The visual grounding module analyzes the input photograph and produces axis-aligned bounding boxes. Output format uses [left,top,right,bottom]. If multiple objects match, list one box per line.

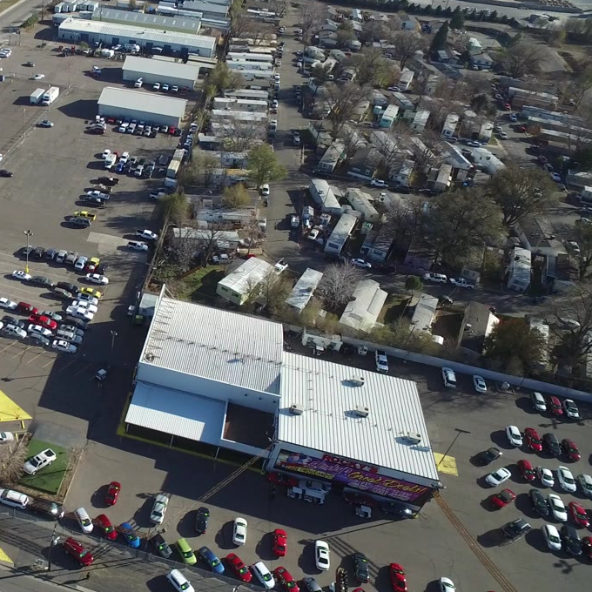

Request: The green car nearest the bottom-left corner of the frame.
[173,538,197,567]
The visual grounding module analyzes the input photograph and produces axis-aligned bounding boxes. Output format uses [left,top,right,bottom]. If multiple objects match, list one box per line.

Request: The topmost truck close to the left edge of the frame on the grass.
[21,448,58,472]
